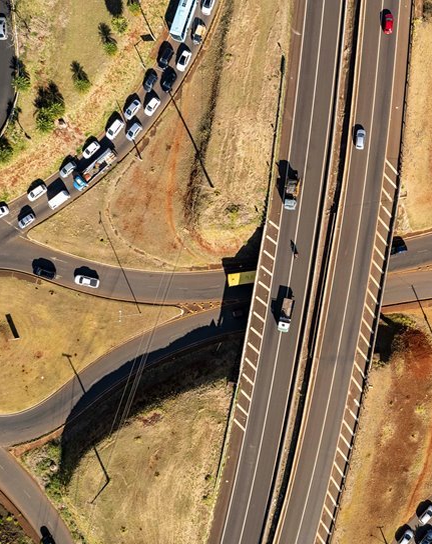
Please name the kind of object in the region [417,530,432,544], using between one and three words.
vehicle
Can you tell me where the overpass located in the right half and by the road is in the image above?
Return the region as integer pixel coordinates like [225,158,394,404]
[235,198,397,396]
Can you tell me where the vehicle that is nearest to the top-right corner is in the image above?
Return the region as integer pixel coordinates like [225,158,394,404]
[382,13,394,34]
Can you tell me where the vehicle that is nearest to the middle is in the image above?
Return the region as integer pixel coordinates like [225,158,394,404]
[224,272,258,290]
